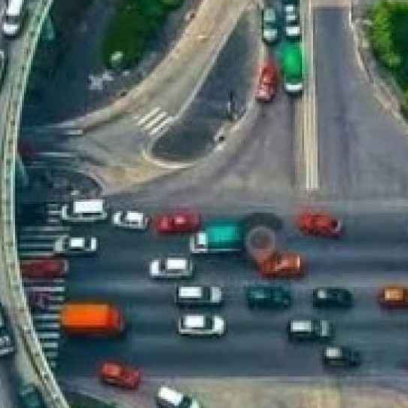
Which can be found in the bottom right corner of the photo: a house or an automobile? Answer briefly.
automobile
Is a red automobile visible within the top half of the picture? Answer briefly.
Yes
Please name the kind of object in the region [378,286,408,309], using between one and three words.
car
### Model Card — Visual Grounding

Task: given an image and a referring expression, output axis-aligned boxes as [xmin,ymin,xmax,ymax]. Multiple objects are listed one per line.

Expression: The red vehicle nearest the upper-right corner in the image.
[257,66,276,100]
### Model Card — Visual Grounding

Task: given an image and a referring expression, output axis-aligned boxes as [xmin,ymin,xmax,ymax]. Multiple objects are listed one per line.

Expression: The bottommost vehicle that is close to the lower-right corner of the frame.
[320,346,363,369]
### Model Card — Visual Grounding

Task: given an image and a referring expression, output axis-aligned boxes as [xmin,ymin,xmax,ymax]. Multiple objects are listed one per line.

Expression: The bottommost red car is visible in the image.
[97,362,142,389]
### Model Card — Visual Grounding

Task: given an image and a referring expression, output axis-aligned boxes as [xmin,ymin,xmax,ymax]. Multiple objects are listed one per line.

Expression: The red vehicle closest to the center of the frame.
[153,213,200,235]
